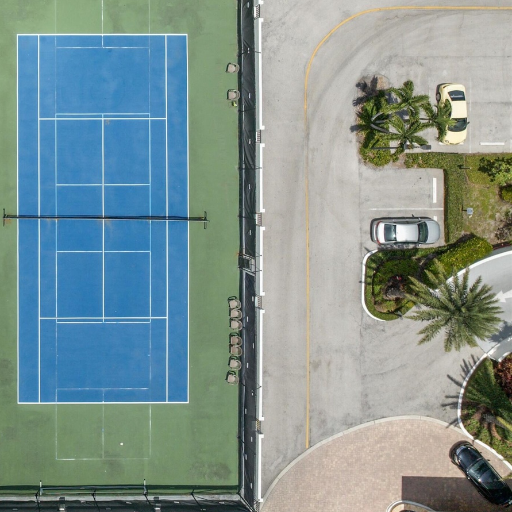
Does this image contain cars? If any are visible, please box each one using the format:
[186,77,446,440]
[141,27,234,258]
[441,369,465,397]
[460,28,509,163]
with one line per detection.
[449,441,512,508]
[366,217,440,247]
[434,81,469,148]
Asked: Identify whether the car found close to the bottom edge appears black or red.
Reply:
black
